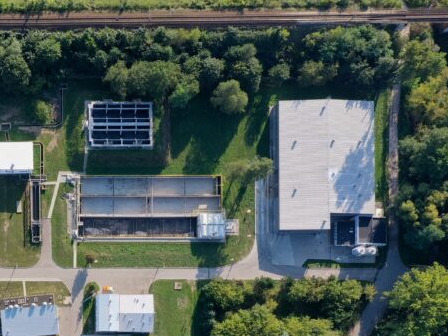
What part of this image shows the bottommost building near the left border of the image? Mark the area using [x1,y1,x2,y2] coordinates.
[0,294,58,336]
